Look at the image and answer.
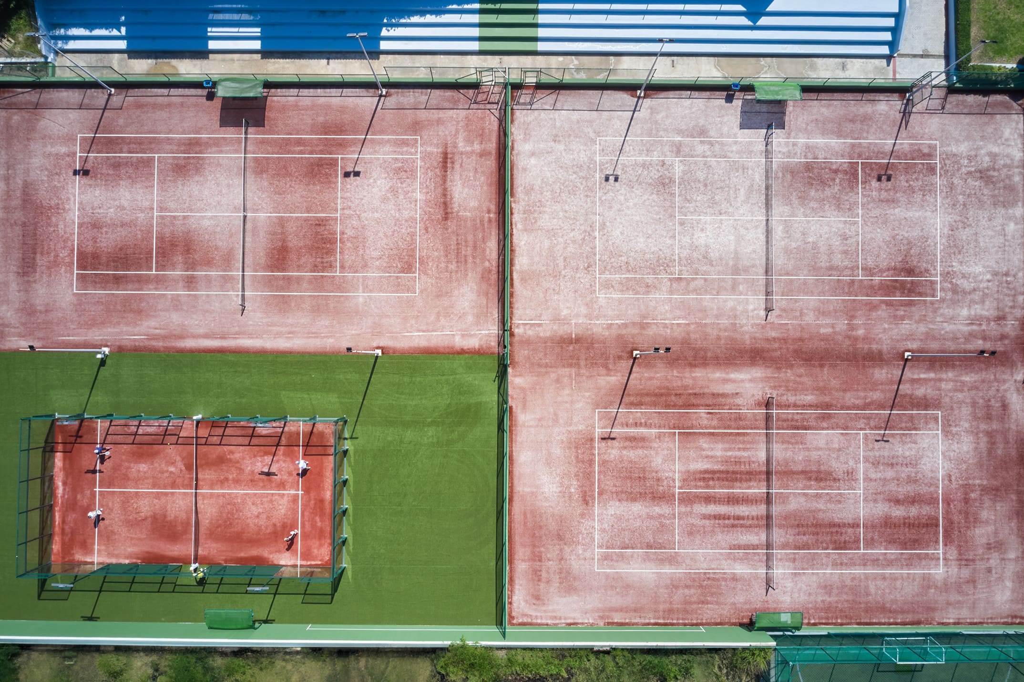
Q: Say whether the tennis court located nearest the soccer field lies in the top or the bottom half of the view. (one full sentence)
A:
You can find the tennis court located nearest the soccer field in the bottom half.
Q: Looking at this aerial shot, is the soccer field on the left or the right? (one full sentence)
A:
The soccer field appears in the right half of the scene.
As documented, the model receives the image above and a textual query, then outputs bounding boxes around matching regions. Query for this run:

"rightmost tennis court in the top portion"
[505,86,1024,347]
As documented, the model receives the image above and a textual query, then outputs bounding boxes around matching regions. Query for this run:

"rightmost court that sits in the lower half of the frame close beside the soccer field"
[504,344,1024,627]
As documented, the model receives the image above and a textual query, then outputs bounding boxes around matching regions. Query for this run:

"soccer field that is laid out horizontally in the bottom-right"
[776,634,1024,682]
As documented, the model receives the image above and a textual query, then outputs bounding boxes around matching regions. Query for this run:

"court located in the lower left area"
[14,410,354,595]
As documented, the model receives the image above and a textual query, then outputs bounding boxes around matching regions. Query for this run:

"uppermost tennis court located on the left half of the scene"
[0,82,506,355]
